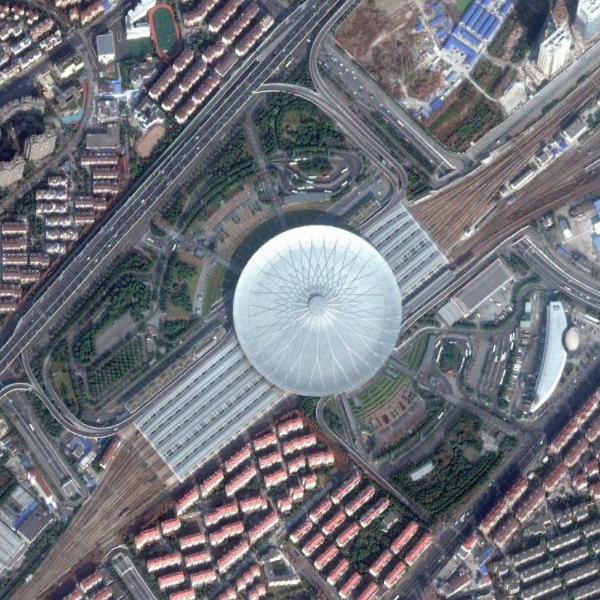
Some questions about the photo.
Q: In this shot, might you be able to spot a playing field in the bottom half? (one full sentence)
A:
No, no playing field appears in the bottom half.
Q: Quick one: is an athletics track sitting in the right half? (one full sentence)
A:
No, in the right half there is no athletics track.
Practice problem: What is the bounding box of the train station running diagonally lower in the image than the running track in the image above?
[133,202,448,479]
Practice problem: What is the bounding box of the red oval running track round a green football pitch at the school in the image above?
[149,3,182,60]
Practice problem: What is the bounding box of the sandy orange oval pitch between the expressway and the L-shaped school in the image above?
[133,124,166,159]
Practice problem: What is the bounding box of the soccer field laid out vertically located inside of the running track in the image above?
[153,8,178,56]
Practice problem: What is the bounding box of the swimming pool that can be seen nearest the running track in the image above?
[60,110,84,124]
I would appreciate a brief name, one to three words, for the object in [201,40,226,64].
building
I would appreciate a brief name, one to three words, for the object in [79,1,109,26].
house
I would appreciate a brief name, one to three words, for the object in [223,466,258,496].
building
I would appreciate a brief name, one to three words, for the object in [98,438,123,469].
house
